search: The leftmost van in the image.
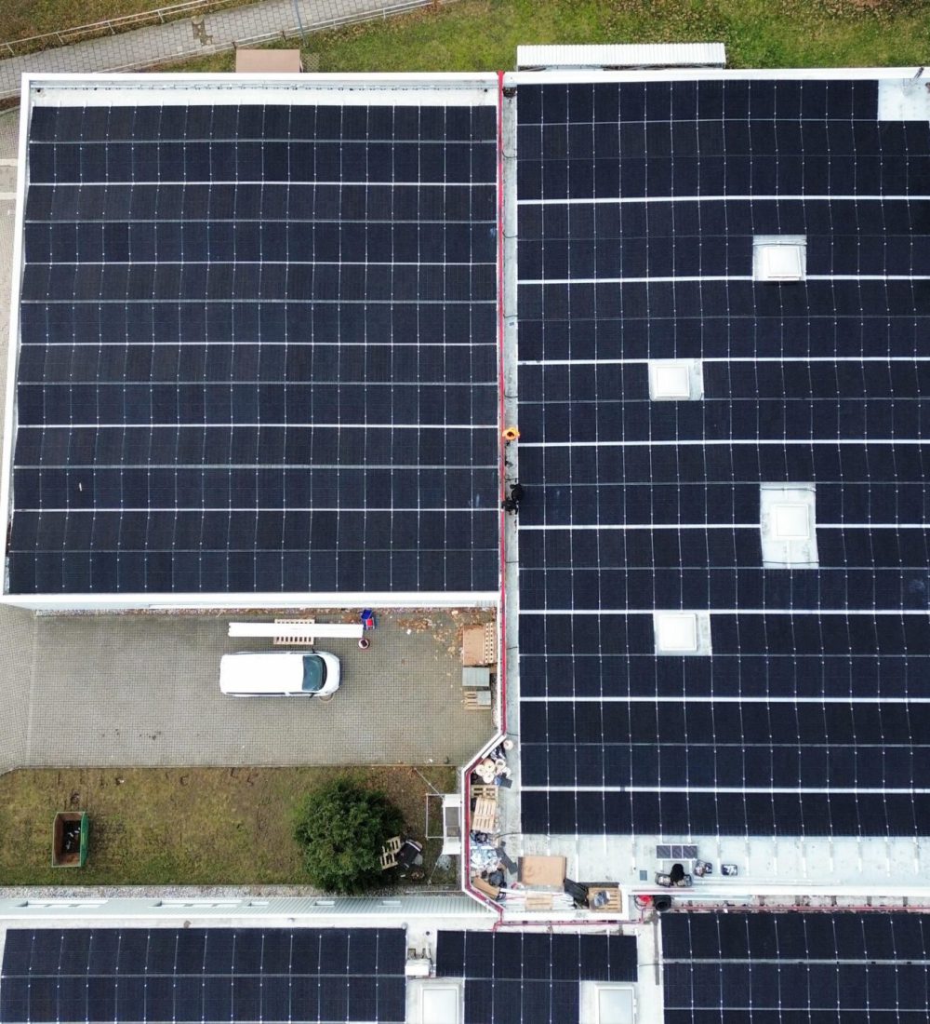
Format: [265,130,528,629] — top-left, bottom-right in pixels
[220,646,343,700]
